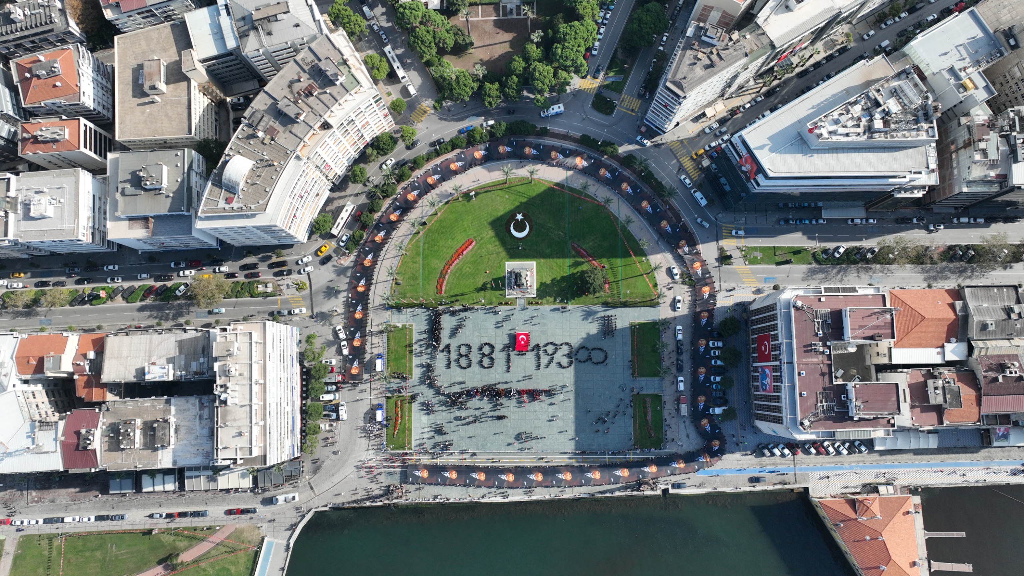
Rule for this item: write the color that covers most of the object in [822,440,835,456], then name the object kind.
white vehicle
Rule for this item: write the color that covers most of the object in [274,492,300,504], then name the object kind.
white vehicle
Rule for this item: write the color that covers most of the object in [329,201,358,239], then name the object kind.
white bus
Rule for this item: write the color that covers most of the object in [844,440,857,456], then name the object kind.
black vehicle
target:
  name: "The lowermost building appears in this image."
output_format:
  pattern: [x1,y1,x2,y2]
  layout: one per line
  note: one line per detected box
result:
[805,494,929,576]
